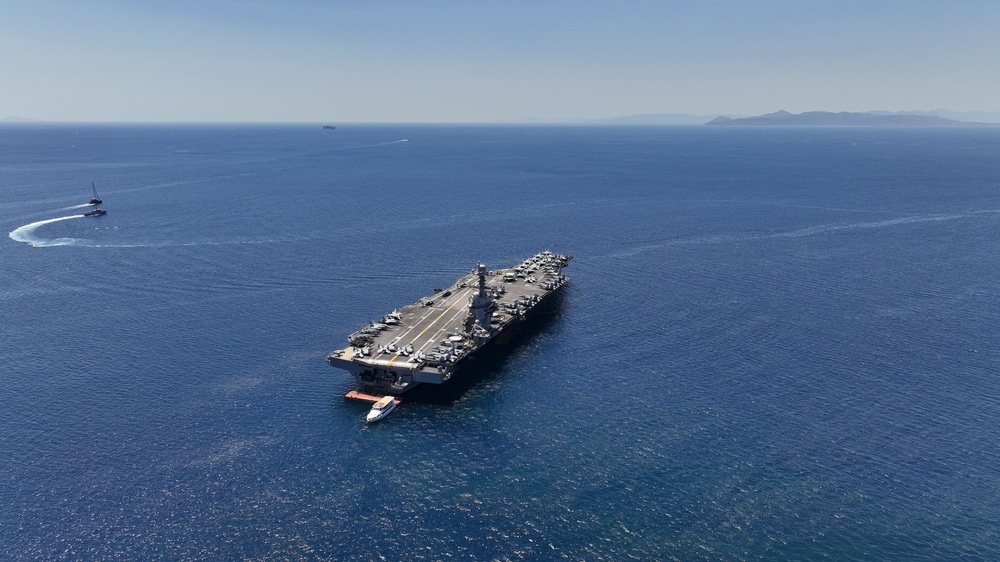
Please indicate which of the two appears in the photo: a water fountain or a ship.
ship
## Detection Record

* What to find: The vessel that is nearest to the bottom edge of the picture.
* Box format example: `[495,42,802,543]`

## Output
[366,395,396,422]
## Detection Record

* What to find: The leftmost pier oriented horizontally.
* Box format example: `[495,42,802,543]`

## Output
[344,390,401,406]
